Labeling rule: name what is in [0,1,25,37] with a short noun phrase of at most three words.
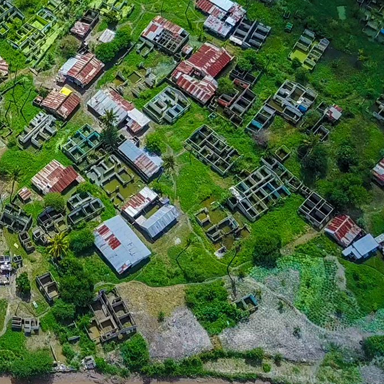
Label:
house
